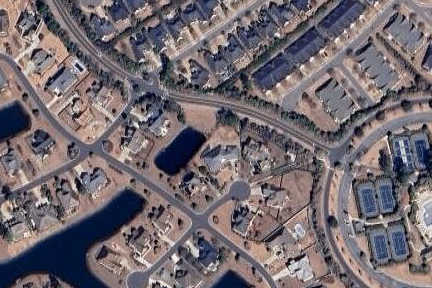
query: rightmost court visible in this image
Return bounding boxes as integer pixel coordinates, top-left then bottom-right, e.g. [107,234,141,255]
[410,131,432,167]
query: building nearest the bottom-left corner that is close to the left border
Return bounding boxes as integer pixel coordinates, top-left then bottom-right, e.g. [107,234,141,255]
[0,210,29,244]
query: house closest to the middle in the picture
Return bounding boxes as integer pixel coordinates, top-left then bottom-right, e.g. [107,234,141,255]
[200,139,237,169]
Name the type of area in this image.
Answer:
residential area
